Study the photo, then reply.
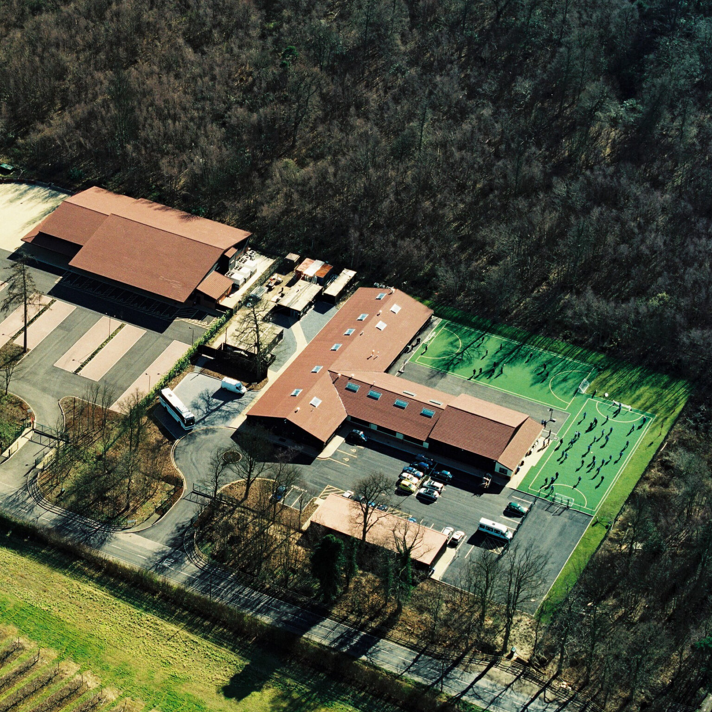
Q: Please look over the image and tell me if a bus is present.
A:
Yes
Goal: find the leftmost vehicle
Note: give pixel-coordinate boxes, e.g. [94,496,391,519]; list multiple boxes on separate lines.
[158,386,199,433]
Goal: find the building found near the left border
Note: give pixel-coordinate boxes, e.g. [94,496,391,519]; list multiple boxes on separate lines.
[21,187,252,314]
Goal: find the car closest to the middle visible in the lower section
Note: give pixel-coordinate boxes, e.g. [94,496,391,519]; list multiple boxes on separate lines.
[344,429,369,445]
